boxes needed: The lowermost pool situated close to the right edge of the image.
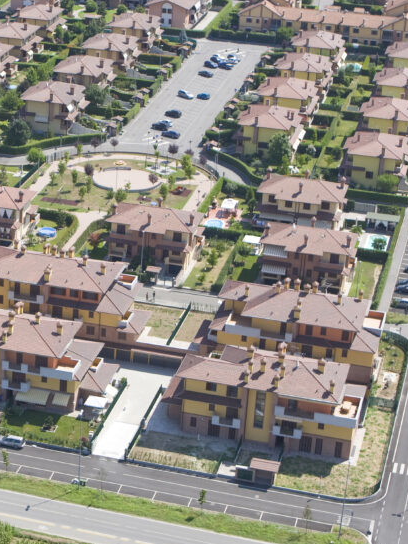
[364,235,388,250]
